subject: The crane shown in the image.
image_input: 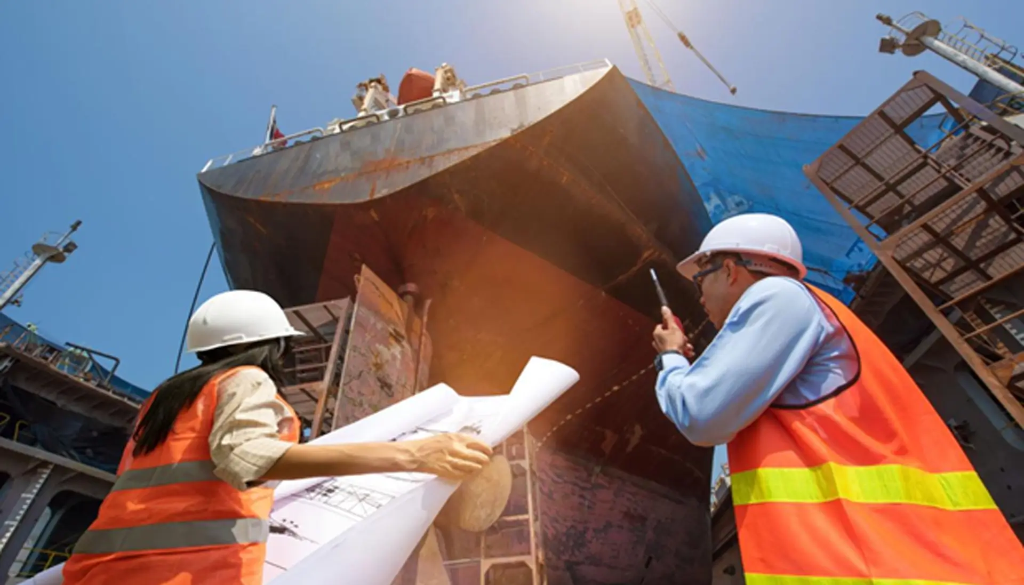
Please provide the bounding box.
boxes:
[613,0,738,96]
